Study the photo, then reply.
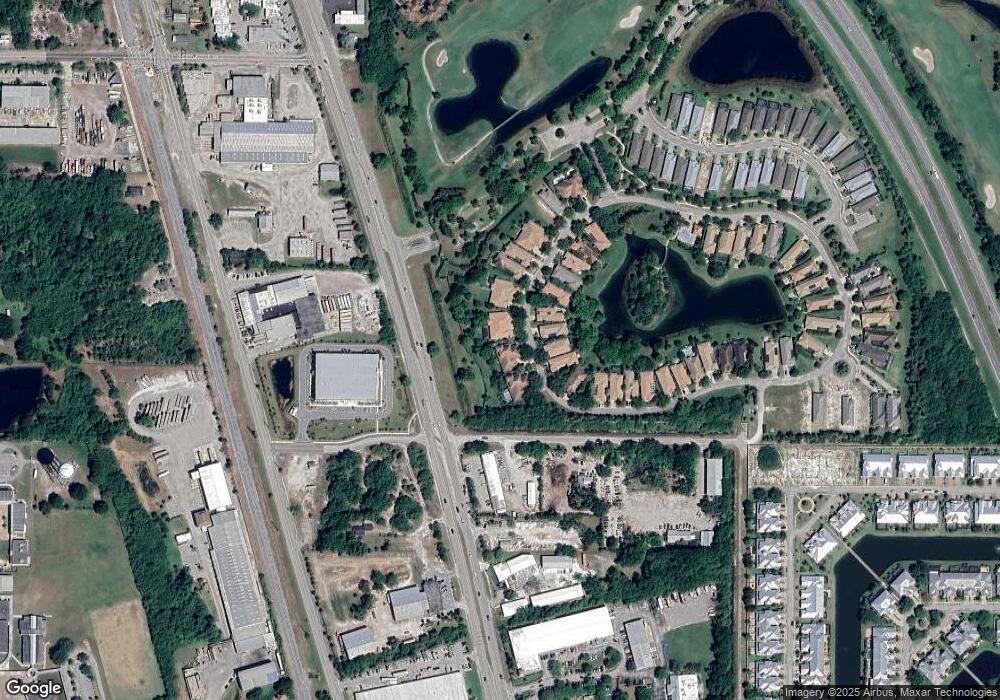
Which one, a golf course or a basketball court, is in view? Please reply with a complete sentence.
It is a golf course that can be seen here.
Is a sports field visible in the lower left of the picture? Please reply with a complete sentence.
Yes, a sports field can be seen in the lower left of the picture.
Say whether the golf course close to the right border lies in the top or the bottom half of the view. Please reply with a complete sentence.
The top half of the photo is where the golf course close to the right border is.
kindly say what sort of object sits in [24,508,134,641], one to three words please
sports field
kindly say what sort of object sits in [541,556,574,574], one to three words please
building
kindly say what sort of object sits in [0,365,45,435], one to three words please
pond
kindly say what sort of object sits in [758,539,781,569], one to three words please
house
